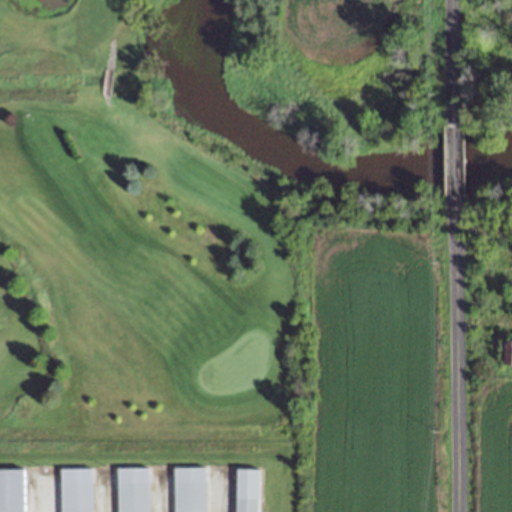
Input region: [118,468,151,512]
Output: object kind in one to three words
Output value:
building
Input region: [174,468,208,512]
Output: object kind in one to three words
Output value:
building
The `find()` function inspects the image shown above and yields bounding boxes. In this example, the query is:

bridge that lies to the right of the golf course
[444,124,468,196]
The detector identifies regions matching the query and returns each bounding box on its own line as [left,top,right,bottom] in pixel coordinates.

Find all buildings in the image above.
[236,468,261,512]
[504,342,512,364]
[60,468,95,512]
[174,468,208,512]
[118,468,151,512]
[0,468,24,512]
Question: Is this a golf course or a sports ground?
golf course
